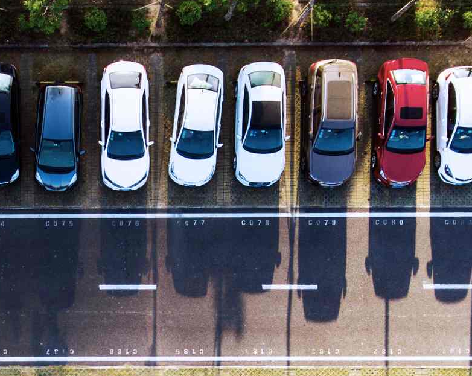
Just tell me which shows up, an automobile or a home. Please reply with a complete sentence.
Of the two, only an automobile appears.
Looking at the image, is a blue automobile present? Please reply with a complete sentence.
Yes, the frame does contain a blue automobile.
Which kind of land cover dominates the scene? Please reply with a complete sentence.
The bulk of the photo consists of paved ground.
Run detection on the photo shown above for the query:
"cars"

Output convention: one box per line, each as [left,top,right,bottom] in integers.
[0,63,20,186]
[306,59,367,186]
[169,63,223,188]
[31,83,84,193]
[375,58,436,187]
[97,61,153,190]
[437,66,472,186]
[237,62,293,186]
